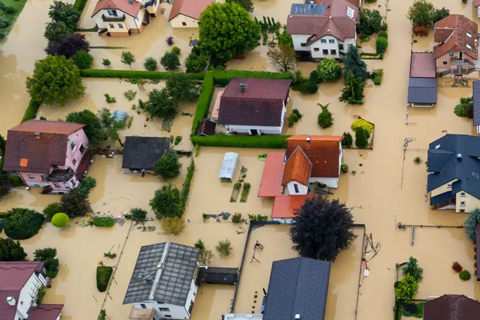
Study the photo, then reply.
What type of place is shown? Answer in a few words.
residential area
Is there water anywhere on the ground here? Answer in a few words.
Yes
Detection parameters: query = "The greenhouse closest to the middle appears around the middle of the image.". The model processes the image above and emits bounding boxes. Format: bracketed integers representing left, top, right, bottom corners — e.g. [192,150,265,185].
[219,147,238,181]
